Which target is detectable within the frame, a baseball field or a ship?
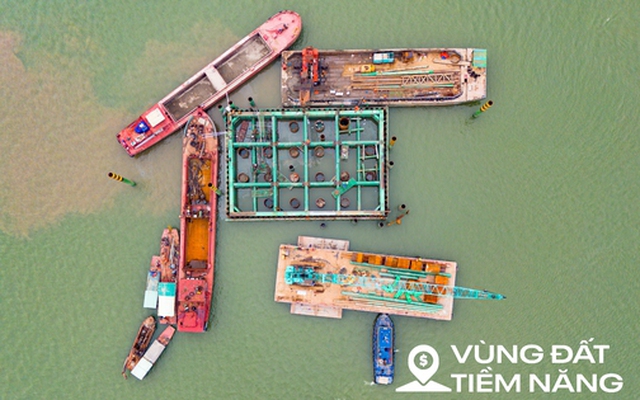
ship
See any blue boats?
Yes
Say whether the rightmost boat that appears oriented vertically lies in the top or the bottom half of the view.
bottom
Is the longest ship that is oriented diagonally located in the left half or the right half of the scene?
left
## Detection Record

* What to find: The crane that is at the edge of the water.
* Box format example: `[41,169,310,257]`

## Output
[284,261,505,300]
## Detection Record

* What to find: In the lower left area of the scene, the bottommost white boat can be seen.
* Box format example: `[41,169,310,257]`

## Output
[131,324,176,381]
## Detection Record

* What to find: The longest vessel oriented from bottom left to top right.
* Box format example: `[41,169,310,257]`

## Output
[116,14,303,155]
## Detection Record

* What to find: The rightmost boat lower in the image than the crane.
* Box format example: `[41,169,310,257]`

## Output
[371,313,396,386]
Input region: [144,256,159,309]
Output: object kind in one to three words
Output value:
boat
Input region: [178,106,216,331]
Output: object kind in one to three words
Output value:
ship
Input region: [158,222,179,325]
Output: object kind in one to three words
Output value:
boat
